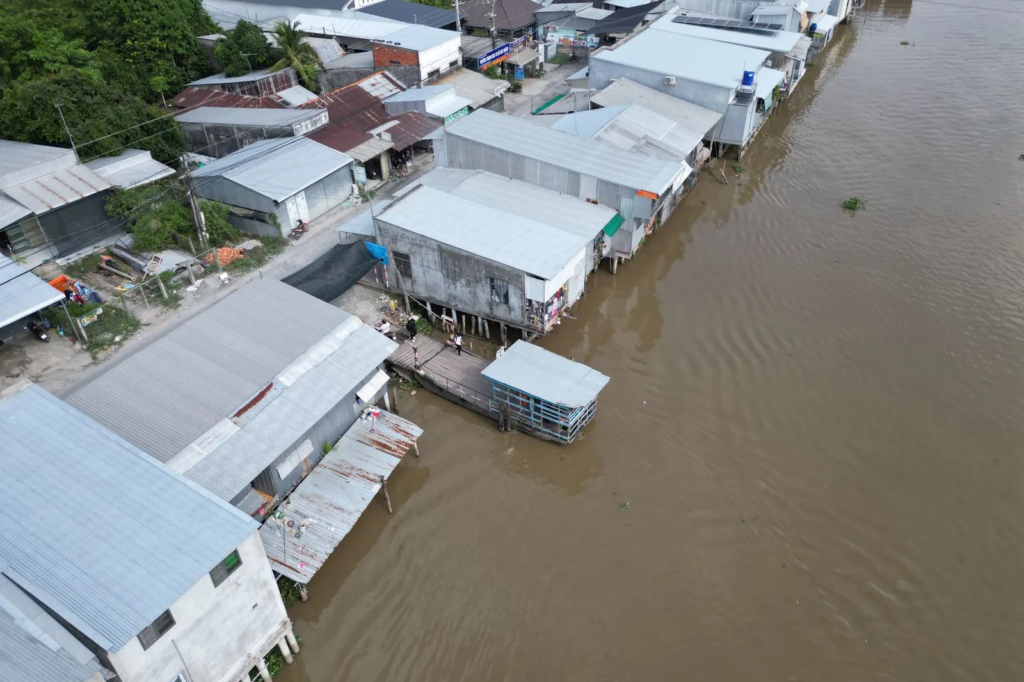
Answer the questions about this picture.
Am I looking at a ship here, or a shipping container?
ship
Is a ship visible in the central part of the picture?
Yes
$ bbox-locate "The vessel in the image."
[420,340,609,448]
